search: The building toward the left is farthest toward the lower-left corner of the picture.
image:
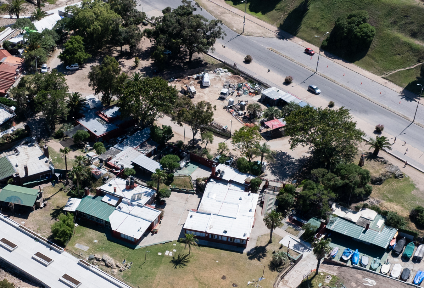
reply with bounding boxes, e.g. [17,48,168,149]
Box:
[0,186,49,217]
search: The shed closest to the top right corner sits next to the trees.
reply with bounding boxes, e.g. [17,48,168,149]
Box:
[261,86,303,108]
